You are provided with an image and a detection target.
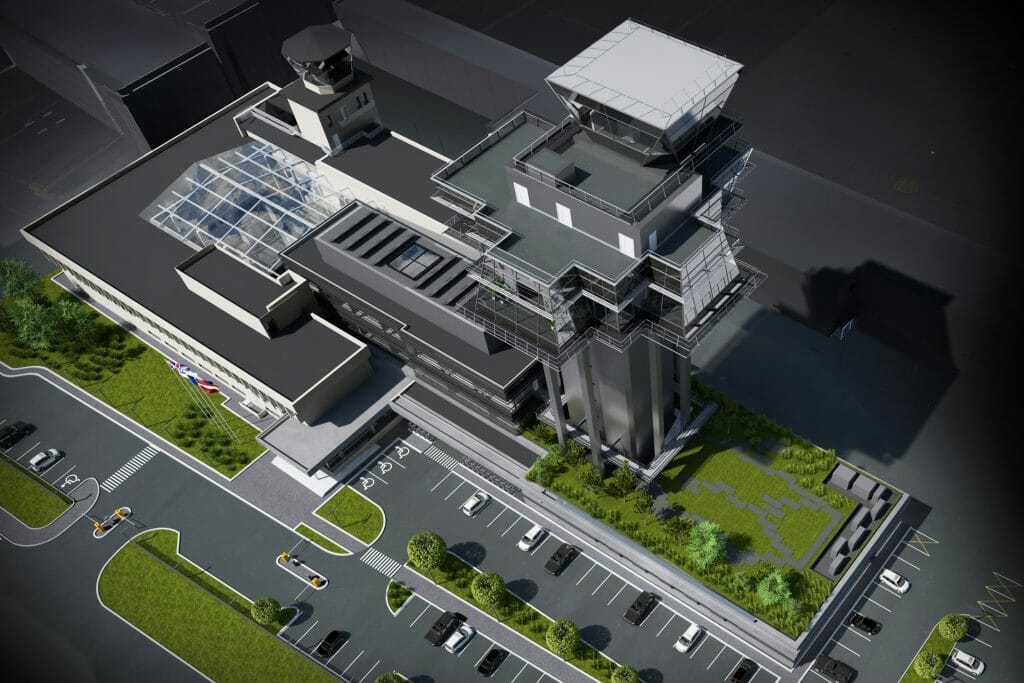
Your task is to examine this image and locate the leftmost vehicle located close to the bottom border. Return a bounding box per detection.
[309,627,350,662]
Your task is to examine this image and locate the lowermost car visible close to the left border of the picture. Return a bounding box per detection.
[27,448,65,474]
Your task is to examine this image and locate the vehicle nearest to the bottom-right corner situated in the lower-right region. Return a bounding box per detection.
[948,648,985,676]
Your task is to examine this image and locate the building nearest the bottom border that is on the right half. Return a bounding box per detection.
[387,373,906,668]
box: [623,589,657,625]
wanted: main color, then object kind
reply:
black car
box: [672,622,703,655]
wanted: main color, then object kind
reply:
white car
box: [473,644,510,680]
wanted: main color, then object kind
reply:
black car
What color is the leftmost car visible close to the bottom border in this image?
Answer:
black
